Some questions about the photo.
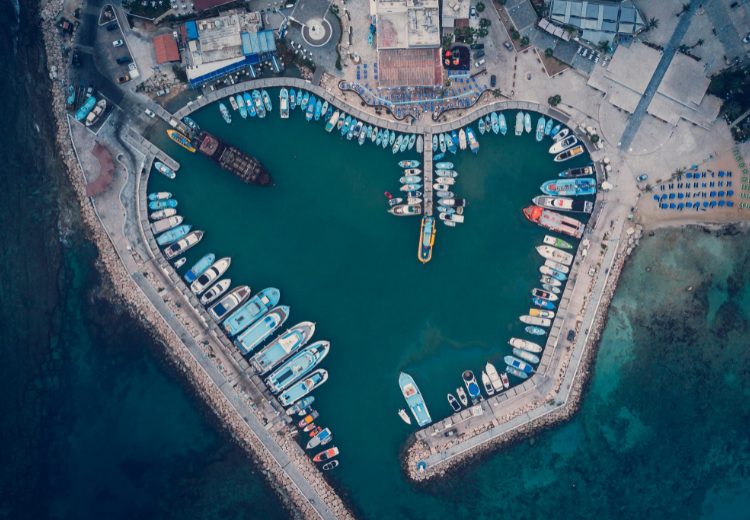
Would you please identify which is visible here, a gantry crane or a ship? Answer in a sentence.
The one in the frame is a ship.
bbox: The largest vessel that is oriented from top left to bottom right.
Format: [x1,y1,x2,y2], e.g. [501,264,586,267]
[193,130,272,185]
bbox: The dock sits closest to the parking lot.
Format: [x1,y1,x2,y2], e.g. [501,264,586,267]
[130,88,199,143]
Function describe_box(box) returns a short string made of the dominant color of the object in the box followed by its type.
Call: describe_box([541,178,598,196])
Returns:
blue boat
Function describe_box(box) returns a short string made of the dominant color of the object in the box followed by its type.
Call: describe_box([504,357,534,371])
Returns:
blue boat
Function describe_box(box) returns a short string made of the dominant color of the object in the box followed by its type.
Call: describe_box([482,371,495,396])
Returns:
white boat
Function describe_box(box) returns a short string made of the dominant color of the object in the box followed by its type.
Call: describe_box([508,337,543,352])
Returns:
white boat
